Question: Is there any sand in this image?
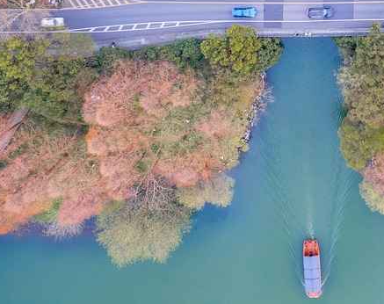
No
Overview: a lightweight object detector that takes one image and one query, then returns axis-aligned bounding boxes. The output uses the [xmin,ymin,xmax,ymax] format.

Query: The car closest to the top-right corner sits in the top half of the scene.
[307,8,334,20]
